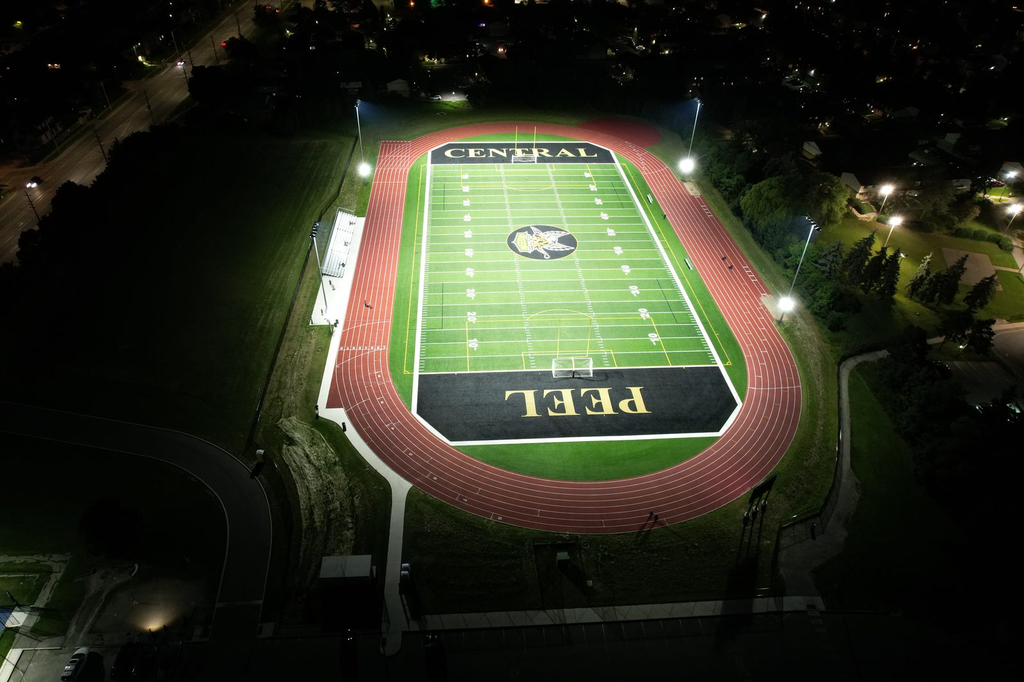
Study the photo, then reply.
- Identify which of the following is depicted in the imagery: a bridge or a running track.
running track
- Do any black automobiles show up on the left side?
Yes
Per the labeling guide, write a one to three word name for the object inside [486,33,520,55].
house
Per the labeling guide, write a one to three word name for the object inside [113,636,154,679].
car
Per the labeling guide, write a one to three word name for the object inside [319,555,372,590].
shed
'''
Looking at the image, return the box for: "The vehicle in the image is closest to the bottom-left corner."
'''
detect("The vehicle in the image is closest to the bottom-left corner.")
[50,642,96,682]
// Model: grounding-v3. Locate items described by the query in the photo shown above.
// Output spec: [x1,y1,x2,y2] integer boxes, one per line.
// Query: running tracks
[335,122,806,539]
